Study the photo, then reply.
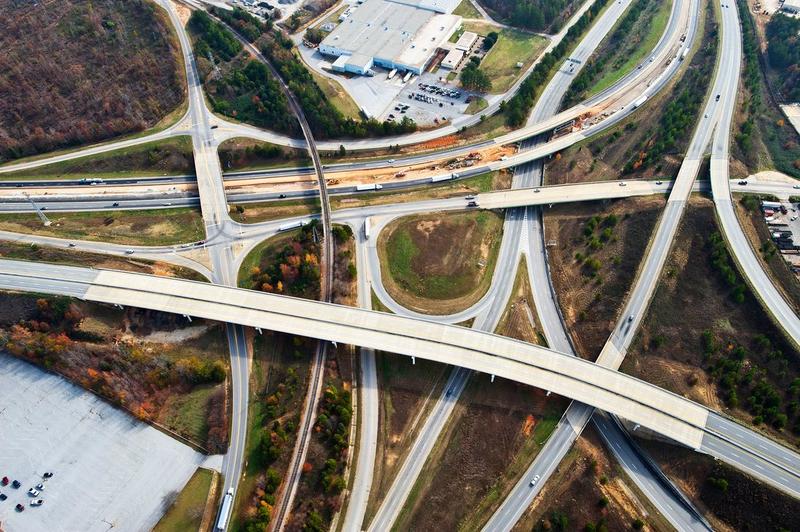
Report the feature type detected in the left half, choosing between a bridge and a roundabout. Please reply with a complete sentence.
Visible in the left half is a bridge.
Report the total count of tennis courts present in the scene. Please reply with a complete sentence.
There are no tennis courts in the image.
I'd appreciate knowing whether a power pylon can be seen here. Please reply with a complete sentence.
Yes, a power pylon is visible in the scene.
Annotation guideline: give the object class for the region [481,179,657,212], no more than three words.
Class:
bridge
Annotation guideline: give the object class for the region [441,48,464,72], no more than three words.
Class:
building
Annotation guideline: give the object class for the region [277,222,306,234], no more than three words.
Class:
vehicle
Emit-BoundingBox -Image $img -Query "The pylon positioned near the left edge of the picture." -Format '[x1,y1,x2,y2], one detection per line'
[20,184,53,227]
